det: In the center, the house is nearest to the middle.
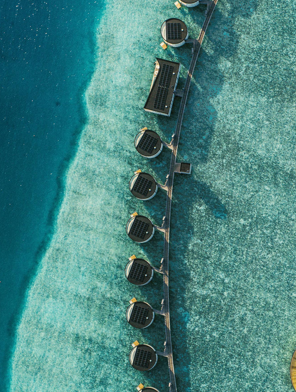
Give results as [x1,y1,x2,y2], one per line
[130,167,158,199]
